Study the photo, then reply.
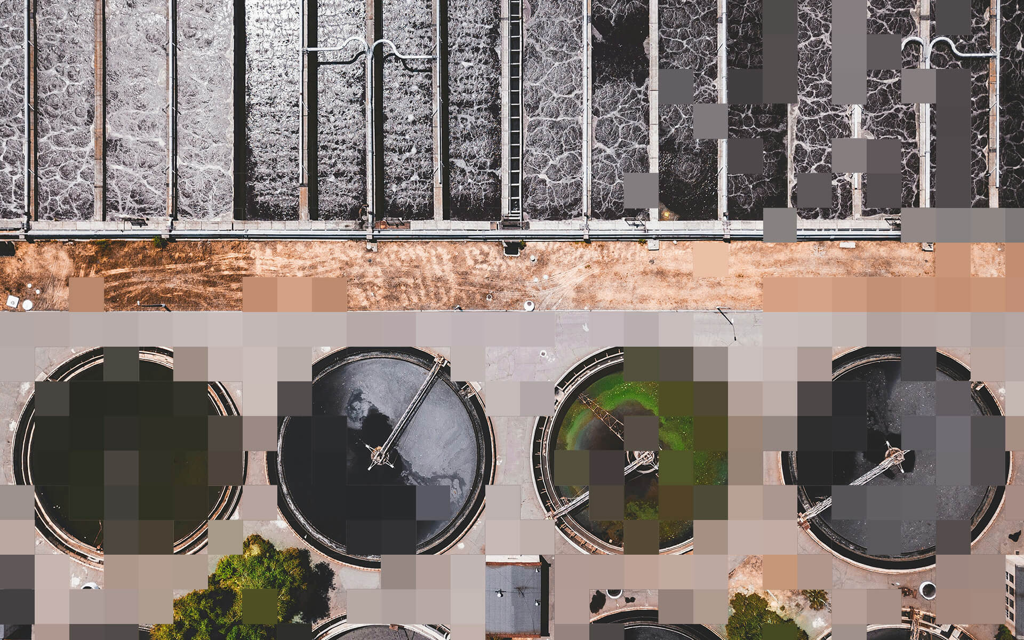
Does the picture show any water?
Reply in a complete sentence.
Yes, water can be seen from above here.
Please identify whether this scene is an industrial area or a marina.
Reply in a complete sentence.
The area seen from above is an industrial area.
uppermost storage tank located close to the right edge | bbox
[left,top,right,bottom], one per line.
[780,343,1013,575]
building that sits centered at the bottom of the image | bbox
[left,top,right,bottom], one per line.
[484,547,542,639]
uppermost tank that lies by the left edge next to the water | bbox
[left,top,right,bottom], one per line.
[11,341,247,577]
